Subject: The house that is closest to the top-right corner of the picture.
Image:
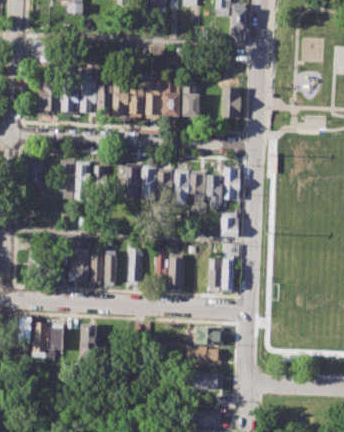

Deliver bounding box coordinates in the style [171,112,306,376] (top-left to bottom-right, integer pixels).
[232,2,247,28]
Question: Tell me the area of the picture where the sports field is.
right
